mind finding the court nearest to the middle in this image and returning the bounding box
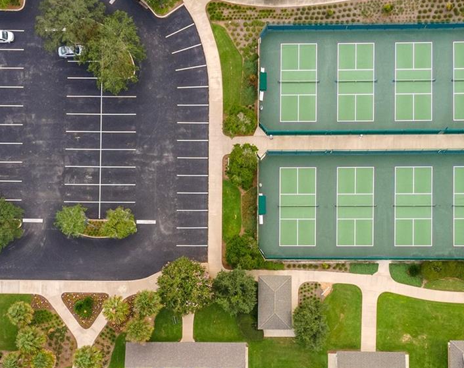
[278,167,319,245]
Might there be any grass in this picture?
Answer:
Yes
